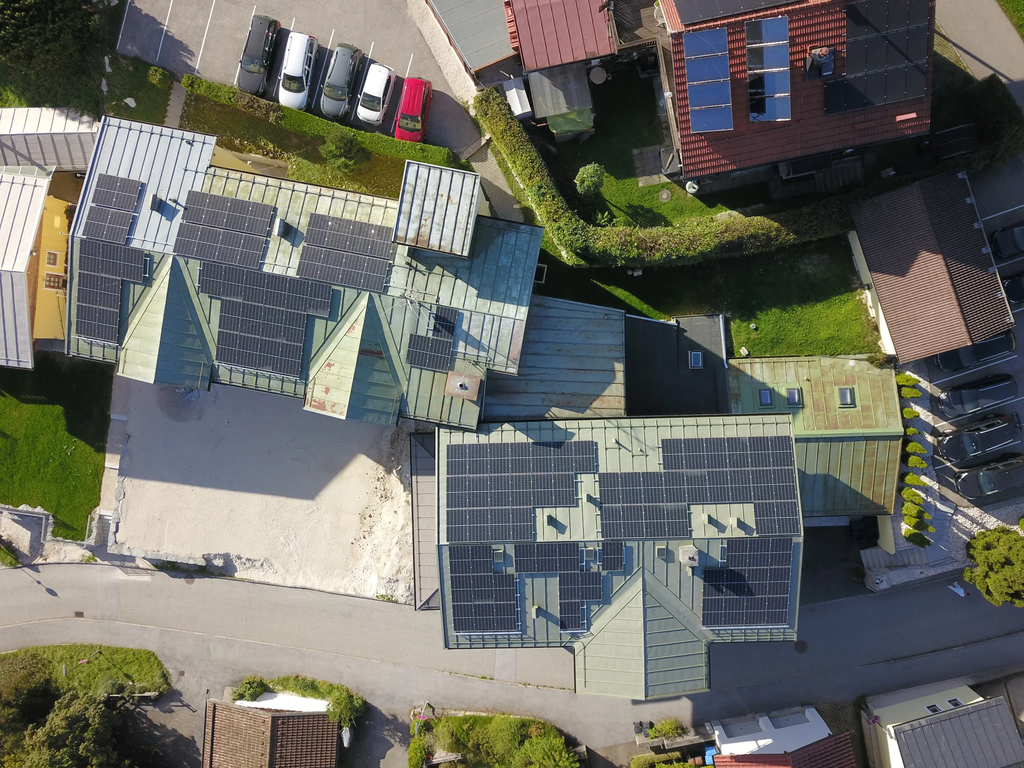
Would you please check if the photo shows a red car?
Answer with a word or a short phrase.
Yes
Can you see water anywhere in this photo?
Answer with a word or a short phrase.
No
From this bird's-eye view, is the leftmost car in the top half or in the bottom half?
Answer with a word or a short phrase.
top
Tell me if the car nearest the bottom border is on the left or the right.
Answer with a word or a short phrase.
right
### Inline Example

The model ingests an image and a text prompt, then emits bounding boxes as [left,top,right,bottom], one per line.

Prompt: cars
[1002,271,1024,305]
[390,64,436,141]
[275,24,323,107]
[317,39,365,120]
[952,449,1024,499]
[232,12,283,96]
[355,54,398,126]
[933,412,1024,463]
[932,328,1019,378]
[932,369,1019,419]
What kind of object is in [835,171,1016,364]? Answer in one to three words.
building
